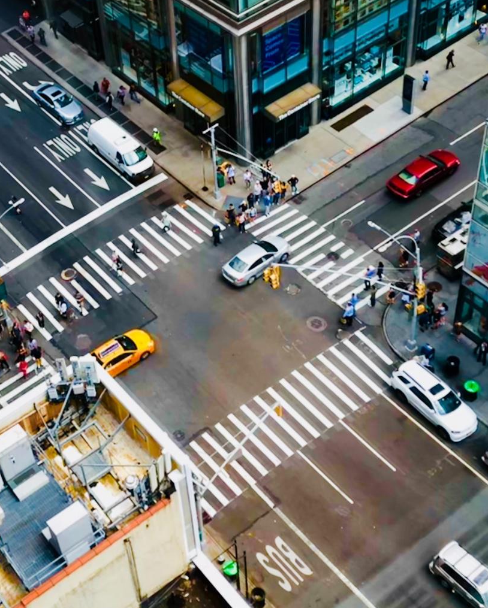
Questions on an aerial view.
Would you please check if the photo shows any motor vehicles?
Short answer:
Yes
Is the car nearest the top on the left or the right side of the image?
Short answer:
left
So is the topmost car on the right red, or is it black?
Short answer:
red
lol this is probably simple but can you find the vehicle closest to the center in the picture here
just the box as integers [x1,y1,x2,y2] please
[224,230,295,284]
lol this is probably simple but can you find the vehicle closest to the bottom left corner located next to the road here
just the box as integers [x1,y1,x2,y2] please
[98,330,156,376]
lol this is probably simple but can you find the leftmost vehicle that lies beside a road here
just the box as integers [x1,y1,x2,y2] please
[35,81,85,122]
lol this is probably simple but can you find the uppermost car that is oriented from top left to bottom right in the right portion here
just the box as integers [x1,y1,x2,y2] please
[395,360,484,437]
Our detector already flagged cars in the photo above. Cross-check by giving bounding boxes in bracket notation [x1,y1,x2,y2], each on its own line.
[224,230,295,284]
[390,145,461,196]
[395,360,484,437]
[437,196,472,235]
[98,330,156,376]
[35,81,85,122]
[440,546,488,608]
